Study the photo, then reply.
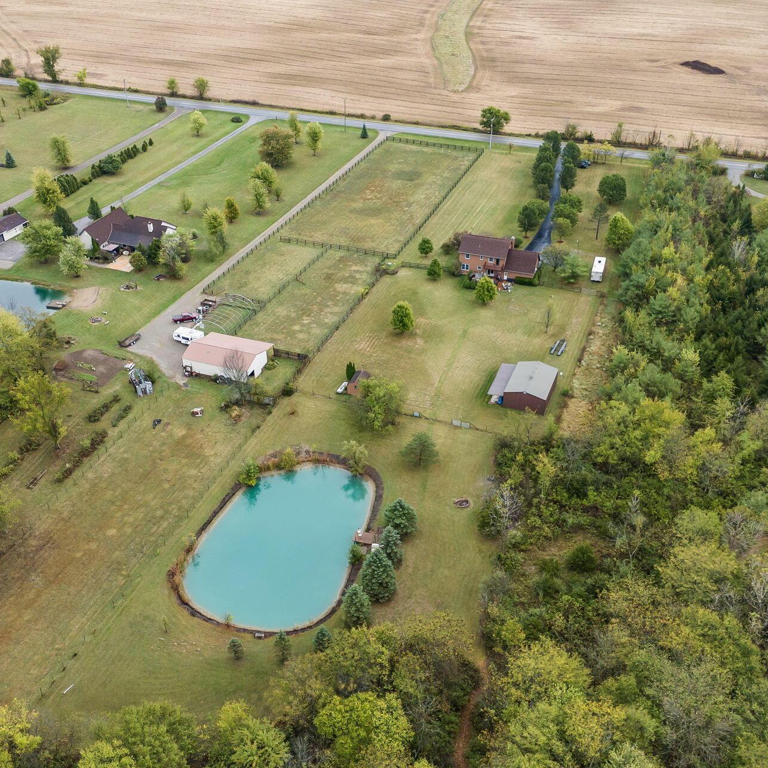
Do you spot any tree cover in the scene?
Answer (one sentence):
Yes, tree cover can be seen from above here.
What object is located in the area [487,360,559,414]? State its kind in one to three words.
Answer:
shed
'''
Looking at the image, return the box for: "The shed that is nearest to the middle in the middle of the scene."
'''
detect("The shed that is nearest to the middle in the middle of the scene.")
[345,370,370,394]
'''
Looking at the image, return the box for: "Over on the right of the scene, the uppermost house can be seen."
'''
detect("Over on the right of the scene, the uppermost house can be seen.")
[458,234,543,282]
